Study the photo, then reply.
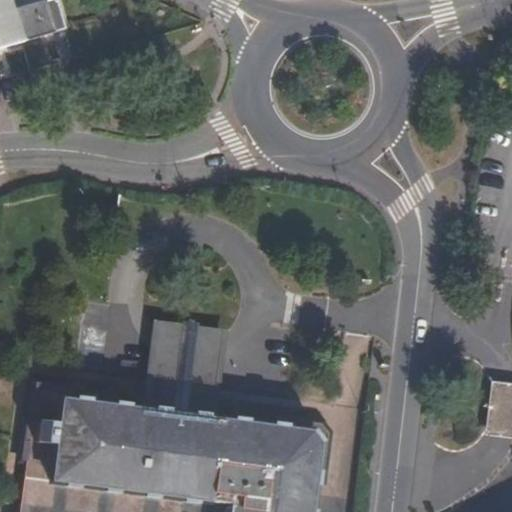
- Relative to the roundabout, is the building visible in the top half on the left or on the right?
left of it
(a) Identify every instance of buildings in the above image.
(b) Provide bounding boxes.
[0,0,68,52]
[486,382,512,440]
[40,395,332,512]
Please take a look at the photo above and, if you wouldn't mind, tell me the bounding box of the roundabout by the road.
[236,4,408,174]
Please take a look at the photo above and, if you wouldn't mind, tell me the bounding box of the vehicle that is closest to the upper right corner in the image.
[490,134,510,147]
